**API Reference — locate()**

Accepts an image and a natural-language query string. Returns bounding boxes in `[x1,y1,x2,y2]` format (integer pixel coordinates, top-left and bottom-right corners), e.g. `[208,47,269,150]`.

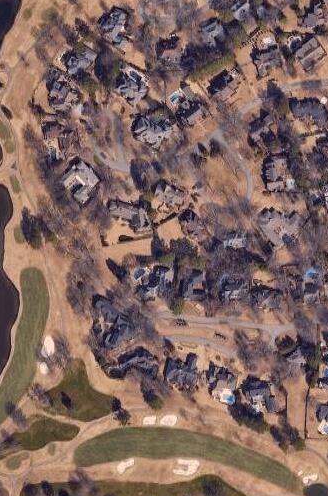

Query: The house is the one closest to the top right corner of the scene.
[303,1,328,36]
